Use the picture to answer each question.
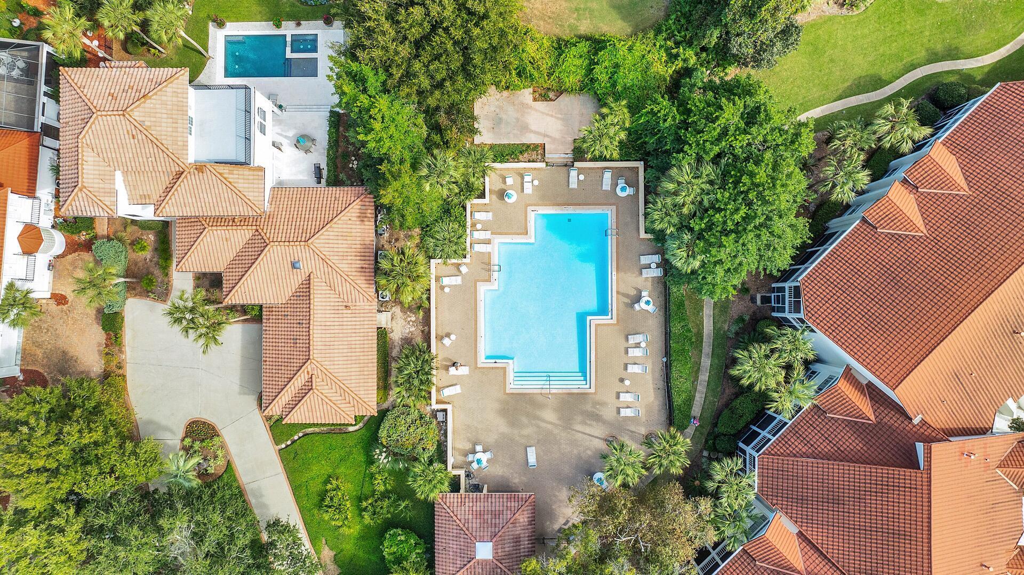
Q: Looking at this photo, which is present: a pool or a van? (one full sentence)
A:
This aerial view contains a pool.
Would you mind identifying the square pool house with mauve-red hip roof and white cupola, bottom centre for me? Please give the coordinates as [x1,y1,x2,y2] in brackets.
[434,489,536,575]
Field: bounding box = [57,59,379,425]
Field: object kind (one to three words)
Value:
house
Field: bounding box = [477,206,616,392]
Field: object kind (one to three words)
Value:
swimming pool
